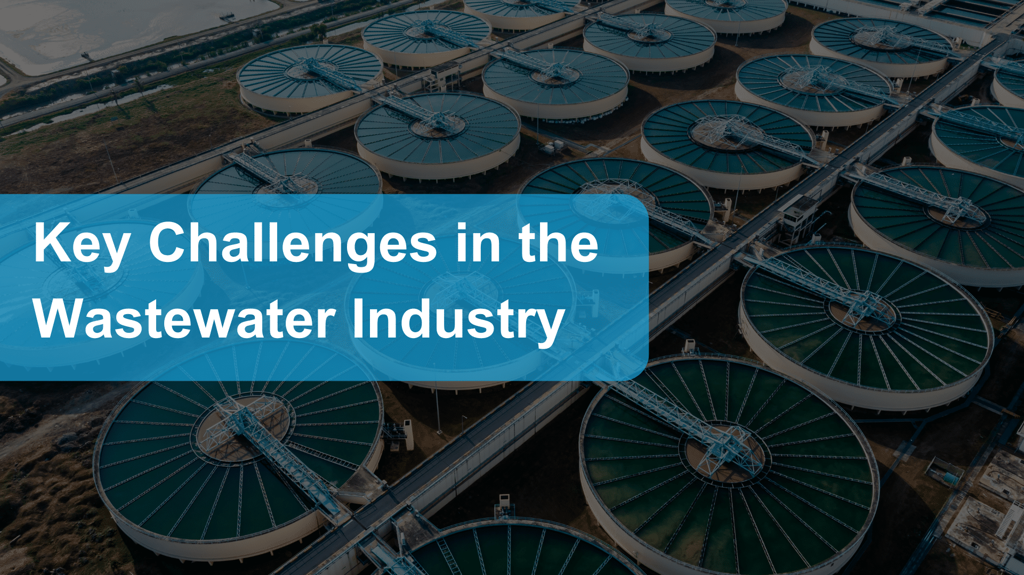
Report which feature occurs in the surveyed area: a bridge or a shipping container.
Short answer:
bridge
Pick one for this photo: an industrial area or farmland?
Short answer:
industrial area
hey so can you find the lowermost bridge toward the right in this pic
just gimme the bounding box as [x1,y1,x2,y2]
[594,375,722,448]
